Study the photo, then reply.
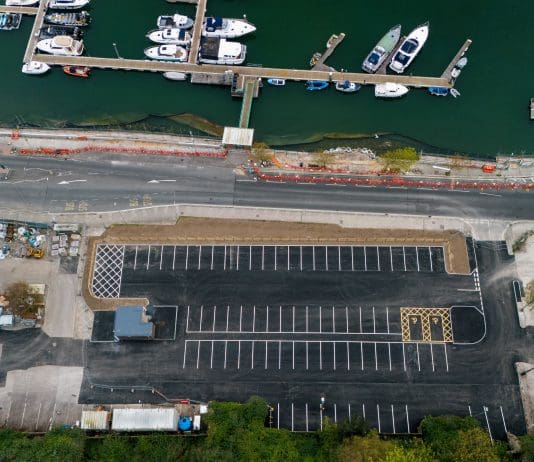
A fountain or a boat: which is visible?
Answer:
boat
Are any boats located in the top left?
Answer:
Yes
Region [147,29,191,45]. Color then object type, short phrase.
white boat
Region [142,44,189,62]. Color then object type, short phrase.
white boat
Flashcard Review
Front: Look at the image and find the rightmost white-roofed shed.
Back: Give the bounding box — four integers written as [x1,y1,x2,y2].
[112,407,180,431]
